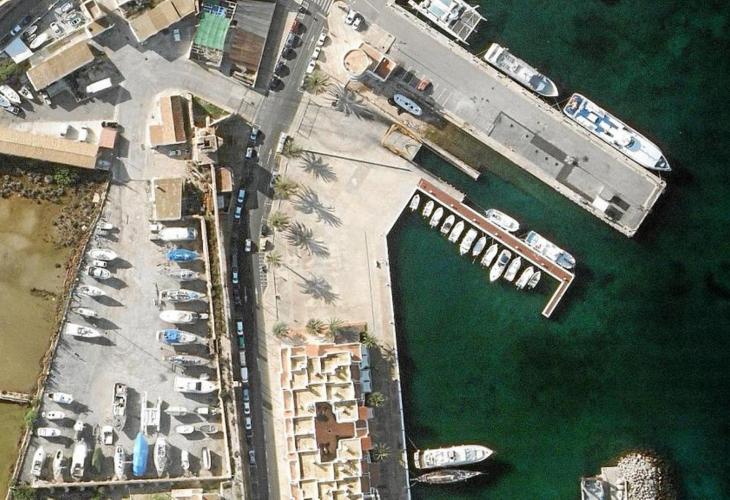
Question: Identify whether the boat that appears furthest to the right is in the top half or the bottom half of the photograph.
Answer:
top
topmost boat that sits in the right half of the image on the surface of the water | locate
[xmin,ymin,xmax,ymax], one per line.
[409,0,484,42]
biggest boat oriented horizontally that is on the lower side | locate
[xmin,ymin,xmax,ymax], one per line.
[415,444,494,471]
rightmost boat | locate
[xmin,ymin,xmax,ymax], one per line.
[563,91,673,170]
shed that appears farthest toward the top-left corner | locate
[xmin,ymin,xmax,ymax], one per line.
[6,36,34,64]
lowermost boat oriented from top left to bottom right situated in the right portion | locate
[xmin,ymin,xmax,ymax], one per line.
[526,229,576,268]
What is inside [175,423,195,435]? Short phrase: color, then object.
white boat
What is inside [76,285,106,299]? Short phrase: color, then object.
white boat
